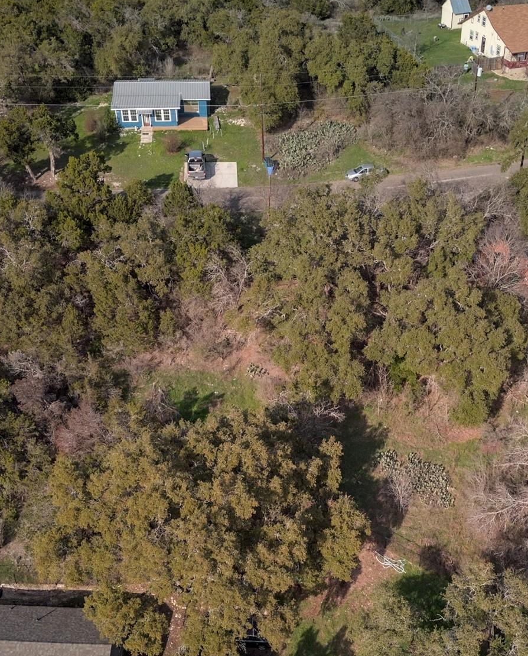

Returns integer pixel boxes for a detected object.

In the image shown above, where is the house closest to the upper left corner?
[111,79,216,141]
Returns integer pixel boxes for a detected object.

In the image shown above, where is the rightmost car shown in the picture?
[347,163,386,181]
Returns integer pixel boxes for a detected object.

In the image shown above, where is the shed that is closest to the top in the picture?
[434,0,470,28]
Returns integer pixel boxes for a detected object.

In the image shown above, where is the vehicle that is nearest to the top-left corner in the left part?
[184,151,208,180]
